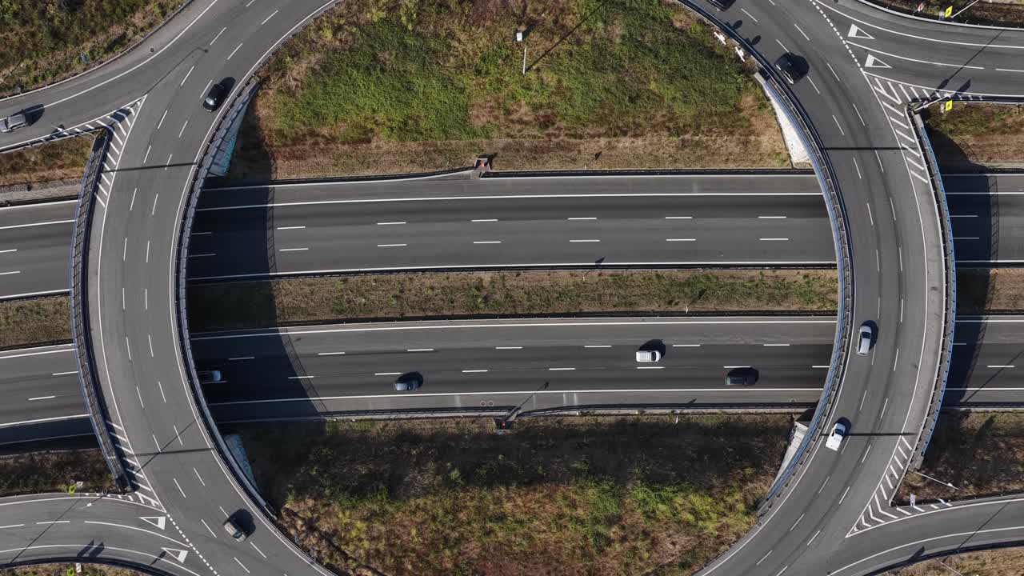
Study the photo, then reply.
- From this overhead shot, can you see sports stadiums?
No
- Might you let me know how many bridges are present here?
2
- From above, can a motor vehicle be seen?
Yes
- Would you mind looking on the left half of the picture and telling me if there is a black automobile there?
Yes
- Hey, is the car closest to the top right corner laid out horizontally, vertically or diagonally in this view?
diagonally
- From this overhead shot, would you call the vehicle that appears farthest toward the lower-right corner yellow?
No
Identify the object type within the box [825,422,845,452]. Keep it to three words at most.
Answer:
vehicle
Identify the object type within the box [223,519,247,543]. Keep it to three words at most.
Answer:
car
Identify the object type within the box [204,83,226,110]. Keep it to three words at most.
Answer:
car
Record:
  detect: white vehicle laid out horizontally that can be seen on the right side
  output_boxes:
[634,350,662,362]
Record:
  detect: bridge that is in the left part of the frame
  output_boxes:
[73,79,268,510]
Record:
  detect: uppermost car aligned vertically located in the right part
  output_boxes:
[855,325,870,356]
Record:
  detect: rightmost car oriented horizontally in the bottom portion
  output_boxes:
[724,374,755,387]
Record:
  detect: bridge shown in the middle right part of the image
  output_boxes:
[756,74,951,510]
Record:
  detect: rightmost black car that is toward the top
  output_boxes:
[774,58,799,85]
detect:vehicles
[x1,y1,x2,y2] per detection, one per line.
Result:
[825,422,845,452]
[855,325,870,356]
[724,374,755,387]
[711,0,733,10]
[774,58,799,85]
[223,519,247,543]
[200,370,223,382]
[394,380,421,392]
[204,83,226,110]
[0,114,29,132]
[634,350,662,362]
